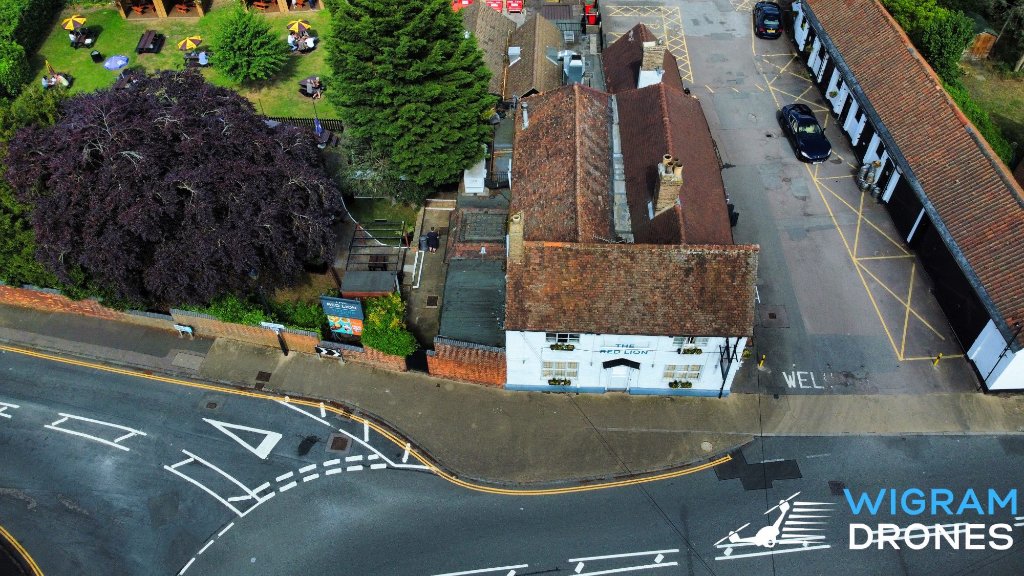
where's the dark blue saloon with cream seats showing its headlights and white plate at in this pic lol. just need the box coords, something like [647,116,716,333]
[786,106,836,161]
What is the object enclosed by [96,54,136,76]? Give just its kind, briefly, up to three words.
umbrella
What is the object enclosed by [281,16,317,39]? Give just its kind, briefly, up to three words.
umbrella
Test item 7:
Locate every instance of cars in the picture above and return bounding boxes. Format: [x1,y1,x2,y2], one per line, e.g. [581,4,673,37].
[786,106,836,161]
[756,3,785,37]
